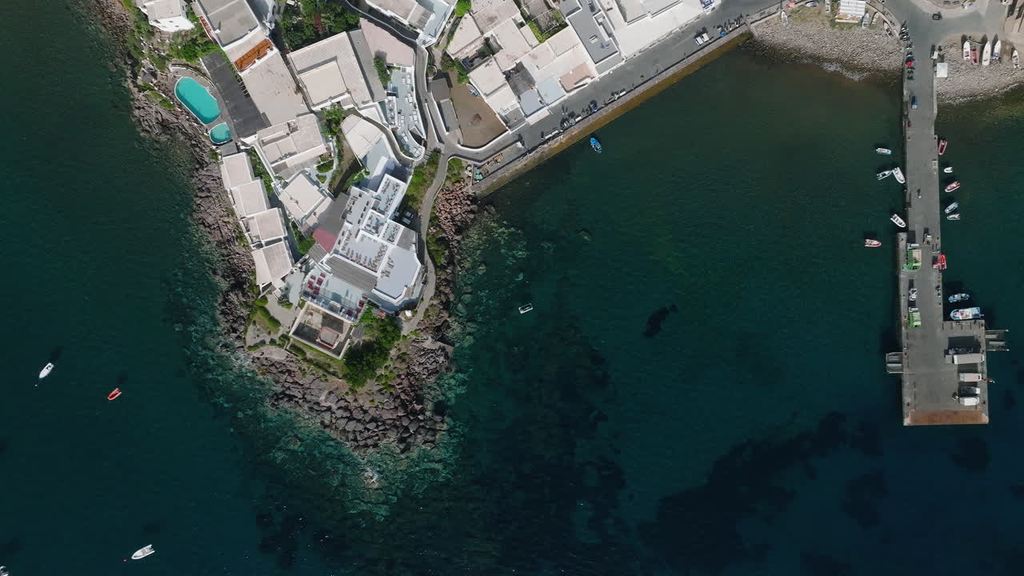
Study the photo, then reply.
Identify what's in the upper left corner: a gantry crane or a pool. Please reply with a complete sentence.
There is a pool in the upper left corner.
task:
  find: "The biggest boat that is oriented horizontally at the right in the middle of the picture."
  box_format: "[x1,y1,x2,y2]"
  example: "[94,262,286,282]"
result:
[949,307,985,319]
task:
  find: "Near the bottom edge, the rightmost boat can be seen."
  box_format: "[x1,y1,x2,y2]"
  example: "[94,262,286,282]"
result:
[131,543,157,560]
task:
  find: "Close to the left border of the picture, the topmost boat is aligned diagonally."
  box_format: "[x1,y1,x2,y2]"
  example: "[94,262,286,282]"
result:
[38,362,55,378]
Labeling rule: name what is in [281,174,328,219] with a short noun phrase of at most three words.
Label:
house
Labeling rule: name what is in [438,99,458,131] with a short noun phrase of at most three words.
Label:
shed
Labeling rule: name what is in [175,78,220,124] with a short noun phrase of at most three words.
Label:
swimming pool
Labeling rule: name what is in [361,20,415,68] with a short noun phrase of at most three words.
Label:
house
